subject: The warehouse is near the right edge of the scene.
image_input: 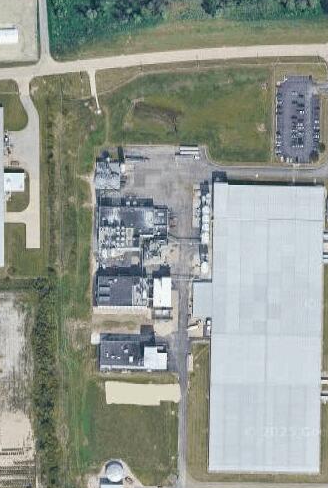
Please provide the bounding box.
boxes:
[209,183,325,473]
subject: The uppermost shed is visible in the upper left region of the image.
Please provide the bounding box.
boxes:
[0,27,19,44]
